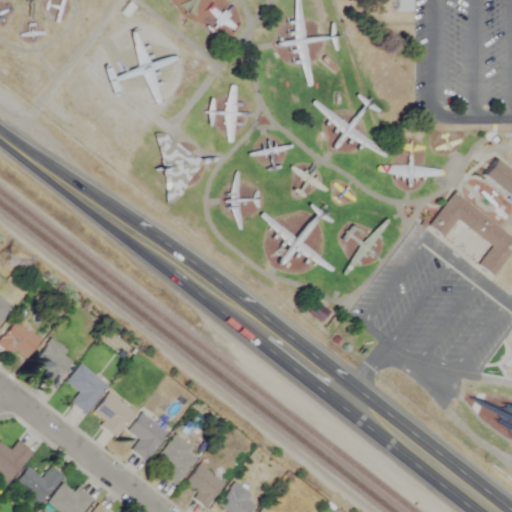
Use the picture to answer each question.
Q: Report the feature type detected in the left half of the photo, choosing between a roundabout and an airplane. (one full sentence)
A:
Looking in the left half of the photo, you will find an airplane.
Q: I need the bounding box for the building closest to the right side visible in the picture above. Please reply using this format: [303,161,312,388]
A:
[482,156,512,192]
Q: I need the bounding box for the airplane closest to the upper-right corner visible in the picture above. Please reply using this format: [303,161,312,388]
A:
[435,132,464,150]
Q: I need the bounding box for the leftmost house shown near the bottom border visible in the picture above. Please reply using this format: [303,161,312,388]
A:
[0,441,33,488]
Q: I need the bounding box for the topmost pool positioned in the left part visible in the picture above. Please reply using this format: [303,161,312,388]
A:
[168,401,182,418]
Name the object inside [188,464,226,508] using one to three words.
house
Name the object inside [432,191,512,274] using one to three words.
building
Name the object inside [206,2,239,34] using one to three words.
airplane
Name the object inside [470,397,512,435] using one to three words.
airplane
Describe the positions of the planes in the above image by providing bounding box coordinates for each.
[314,92,388,156]
[0,6,10,24]
[292,166,330,198]
[20,21,46,39]
[470,397,512,435]
[206,2,239,34]
[377,140,446,188]
[260,203,336,272]
[343,218,392,276]
[278,0,342,86]
[249,140,294,172]
[333,182,358,204]
[46,0,66,22]
[435,132,464,150]
[204,84,256,142]
[225,170,262,230]
[104,30,178,104]
[156,132,220,204]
